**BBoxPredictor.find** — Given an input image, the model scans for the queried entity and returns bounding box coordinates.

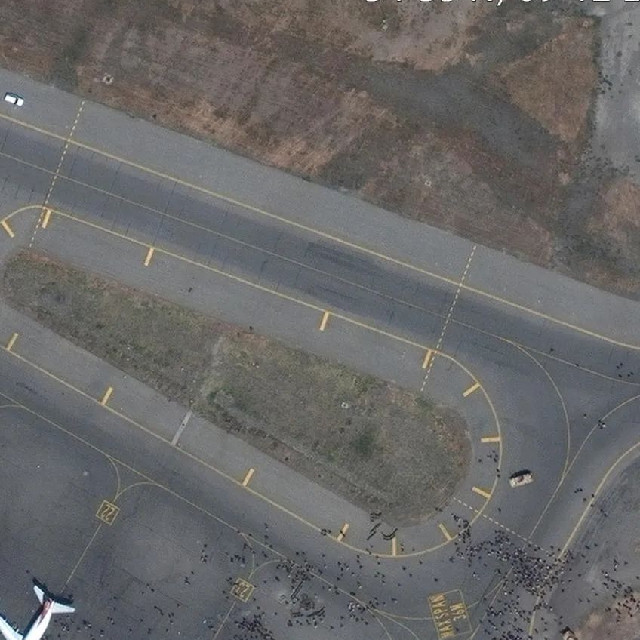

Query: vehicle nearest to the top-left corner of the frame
[5,94,26,107]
